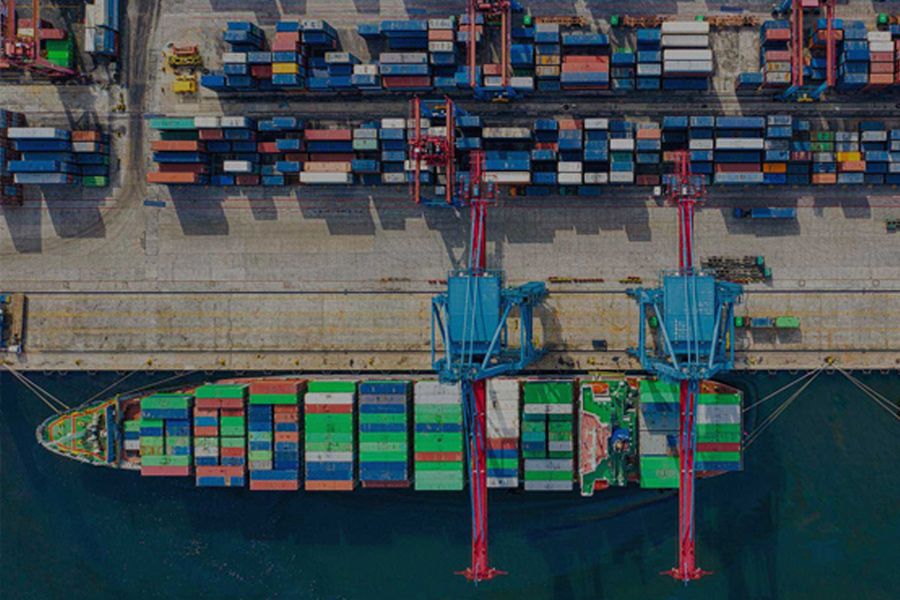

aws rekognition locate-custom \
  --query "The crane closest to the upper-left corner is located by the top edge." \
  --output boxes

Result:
[4,0,90,79]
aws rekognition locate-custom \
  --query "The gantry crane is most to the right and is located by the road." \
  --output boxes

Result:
[773,0,837,101]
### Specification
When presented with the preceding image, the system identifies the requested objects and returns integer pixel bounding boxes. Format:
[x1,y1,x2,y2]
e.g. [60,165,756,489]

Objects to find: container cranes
[773,0,837,101]
[465,0,524,101]
[627,148,743,589]
[430,148,547,589]
[4,0,90,79]
[410,96,472,209]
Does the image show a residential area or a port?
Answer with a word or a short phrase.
port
